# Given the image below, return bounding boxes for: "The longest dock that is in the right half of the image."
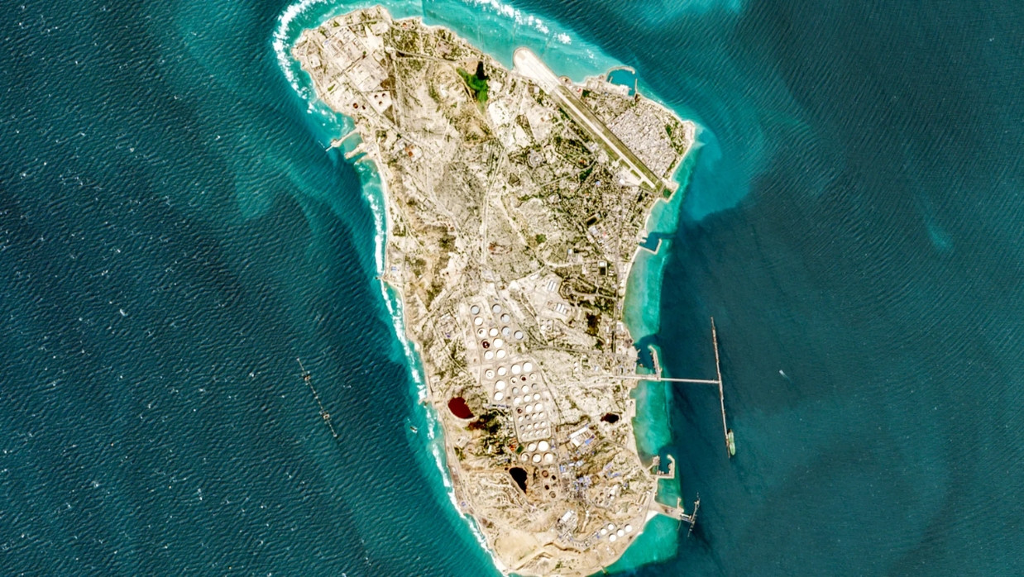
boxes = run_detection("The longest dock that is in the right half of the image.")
[653,317,730,458]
